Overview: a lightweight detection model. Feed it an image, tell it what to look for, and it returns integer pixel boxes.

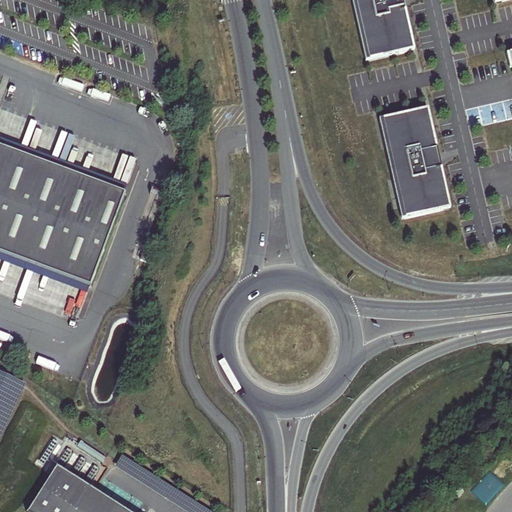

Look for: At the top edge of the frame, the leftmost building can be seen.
[350,0,414,62]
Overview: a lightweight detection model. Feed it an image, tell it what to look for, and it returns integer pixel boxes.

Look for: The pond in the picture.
[87,313,134,410]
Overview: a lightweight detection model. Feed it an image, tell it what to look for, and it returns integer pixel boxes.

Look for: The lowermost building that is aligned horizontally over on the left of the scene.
[26,464,132,512]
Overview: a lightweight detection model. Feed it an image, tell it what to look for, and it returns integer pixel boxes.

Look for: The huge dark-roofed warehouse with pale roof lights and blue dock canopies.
[0,137,127,294]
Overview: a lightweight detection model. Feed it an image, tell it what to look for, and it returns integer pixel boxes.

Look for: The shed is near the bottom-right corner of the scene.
[471,472,506,506]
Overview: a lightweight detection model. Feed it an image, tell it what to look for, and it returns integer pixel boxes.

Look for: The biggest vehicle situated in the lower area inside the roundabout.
[220,358,244,398]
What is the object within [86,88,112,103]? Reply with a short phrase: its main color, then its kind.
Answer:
white vehicle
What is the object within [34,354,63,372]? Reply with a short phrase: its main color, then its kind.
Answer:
white vehicle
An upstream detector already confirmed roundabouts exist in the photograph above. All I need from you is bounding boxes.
[212,268,363,419]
